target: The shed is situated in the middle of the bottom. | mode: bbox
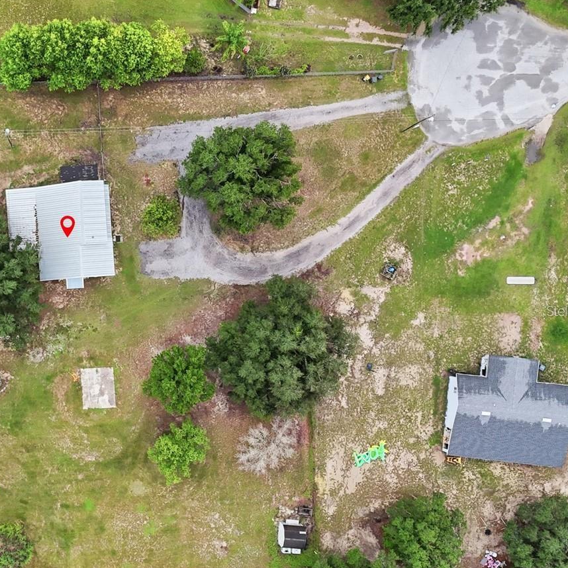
[281,520,307,549]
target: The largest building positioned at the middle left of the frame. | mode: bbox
[6,180,115,289]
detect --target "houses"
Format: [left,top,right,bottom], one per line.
[438,355,568,468]
[6,180,115,289]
